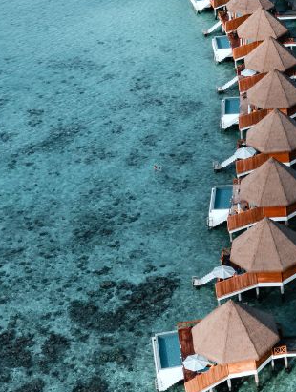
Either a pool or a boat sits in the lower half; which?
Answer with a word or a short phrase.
pool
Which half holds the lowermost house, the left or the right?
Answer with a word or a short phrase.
right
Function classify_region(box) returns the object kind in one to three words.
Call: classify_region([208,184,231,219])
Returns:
swimming pool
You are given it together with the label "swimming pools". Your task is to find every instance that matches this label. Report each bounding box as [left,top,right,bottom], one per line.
[220,95,240,123]
[208,184,231,219]
[211,33,231,55]
[190,0,208,9]
[152,330,183,381]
